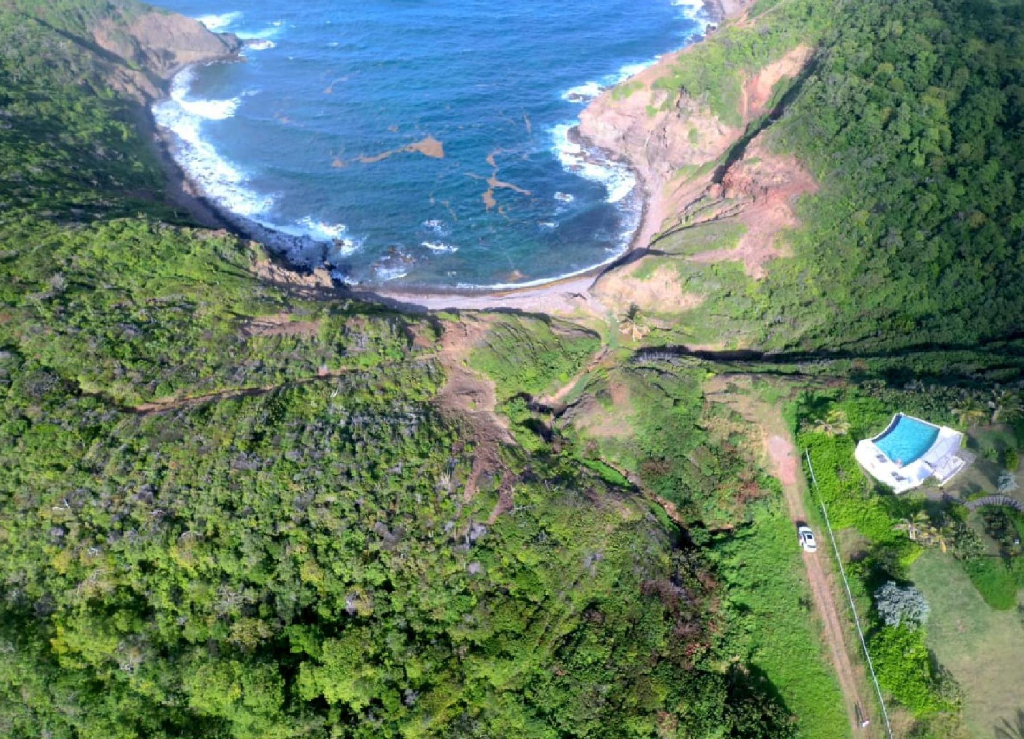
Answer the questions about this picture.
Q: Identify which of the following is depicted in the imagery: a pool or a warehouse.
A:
pool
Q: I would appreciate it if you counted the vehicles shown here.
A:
1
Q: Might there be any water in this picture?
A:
Yes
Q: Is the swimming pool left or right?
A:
right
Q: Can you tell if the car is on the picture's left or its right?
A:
right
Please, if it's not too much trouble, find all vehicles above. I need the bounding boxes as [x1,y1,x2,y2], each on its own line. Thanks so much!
[794,525,816,554]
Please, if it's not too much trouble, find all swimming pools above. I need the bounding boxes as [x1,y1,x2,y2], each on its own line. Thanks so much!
[852,411,963,497]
